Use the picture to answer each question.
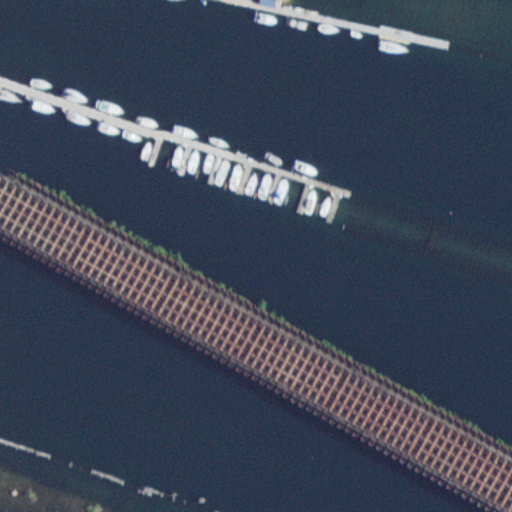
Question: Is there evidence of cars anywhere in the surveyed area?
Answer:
No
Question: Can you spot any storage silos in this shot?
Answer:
No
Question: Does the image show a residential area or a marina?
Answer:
marina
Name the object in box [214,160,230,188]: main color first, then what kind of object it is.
white boat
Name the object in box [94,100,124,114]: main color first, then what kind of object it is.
white boat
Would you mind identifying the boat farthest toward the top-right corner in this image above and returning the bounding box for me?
[377,40,410,54]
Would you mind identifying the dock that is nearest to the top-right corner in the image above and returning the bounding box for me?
[218,0,450,50]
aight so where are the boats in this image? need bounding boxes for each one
[62,88,88,103]
[30,78,52,89]
[172,146,184,170]
[292,159,318,176]
[244,174,256,198]
[0,90,22,101]
[304,189,317,217]
[171,124,198,138]
[203,152,214,175]
[258,173,272,202]
[274,177,288,207]
[252,12,278,24]
[318,196,332,219]
[214,160,230,188]
[348,30,362,39]
[94,100,124,114]
[208,136,230,148]
[264,152,283,166]
[65,112,91,125]
[318,23,339,34]
[30,100,56,113]
[229,163,243,193]
[135,117,159,128]
[187,148,200,176]
[377,40,410,54]
[96,122,120,134]
[121,130,142,142]
[140,142,152,162]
